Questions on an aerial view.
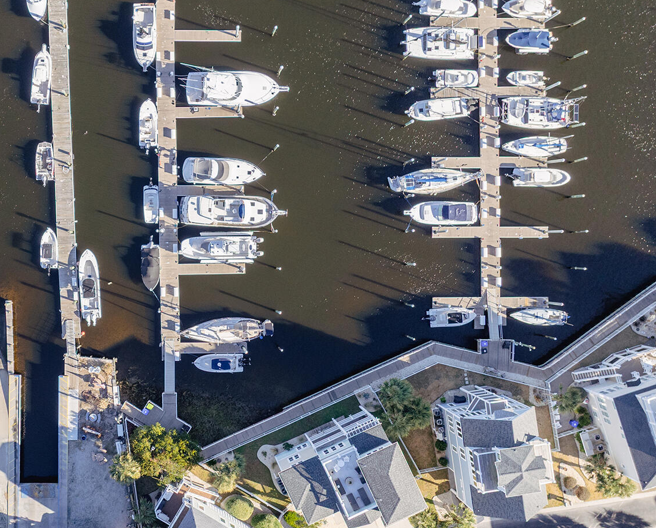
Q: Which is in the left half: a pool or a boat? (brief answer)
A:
boat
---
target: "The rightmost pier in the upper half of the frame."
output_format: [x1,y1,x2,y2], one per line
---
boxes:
[429,0,548,329]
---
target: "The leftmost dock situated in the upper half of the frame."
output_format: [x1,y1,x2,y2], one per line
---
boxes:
[48,0,81,339]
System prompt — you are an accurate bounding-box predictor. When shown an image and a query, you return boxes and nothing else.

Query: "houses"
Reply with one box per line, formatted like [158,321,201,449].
[568,344,656,491]
[444,377,560,522]
[273,405,427,528]
[154,478,252,528]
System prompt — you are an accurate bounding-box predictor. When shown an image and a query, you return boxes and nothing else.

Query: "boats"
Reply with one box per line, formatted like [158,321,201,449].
[133,1,157,72]
[178,195,290,226]
[139,99,158,152]
[498,0,558,19]
[507,307,577,328]
[418,306,477,328]
[428,70,478,88]
[143,180,159,223]
[30,42,52,110]
[180,317,274,344]
[181,238,261,260]
[406,200,478,225]
[183,57,290,105]
[399,18,484,61]
[393,167,485,197]
[193,352,249,373]
[502,133,579,155]
[500,95,588,128]
[36,143,55,186]
[405,95,478,120]
[178,159,269,187]
[503,71,548,87]
[409,0,477,19]
[503,168,570,187]
[41,227,59,275]
[78,250,101,325]
[28,0,47,23]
